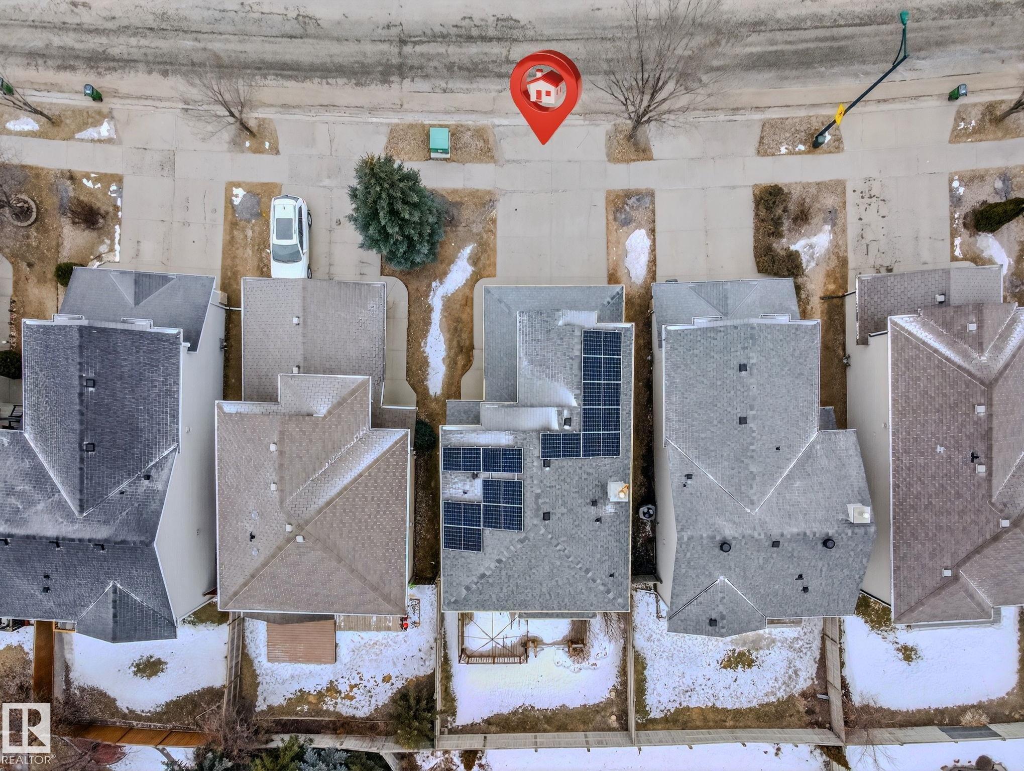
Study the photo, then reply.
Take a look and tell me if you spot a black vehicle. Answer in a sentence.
No, this view has no black vehicle in it.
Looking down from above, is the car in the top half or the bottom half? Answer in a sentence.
It is in the top half that the car appears.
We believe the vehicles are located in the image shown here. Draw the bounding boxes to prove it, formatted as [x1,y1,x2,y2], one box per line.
[266,197,310,279]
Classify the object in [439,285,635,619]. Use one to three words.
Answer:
house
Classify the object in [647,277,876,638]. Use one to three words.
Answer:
house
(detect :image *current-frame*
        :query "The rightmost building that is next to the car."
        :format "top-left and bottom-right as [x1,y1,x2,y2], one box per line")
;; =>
[215,277,421,625]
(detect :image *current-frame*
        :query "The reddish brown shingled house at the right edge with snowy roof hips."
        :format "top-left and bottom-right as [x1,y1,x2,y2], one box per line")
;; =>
[821,266,1024,626]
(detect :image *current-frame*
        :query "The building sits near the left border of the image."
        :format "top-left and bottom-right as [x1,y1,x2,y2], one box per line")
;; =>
[0,266,241,644]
